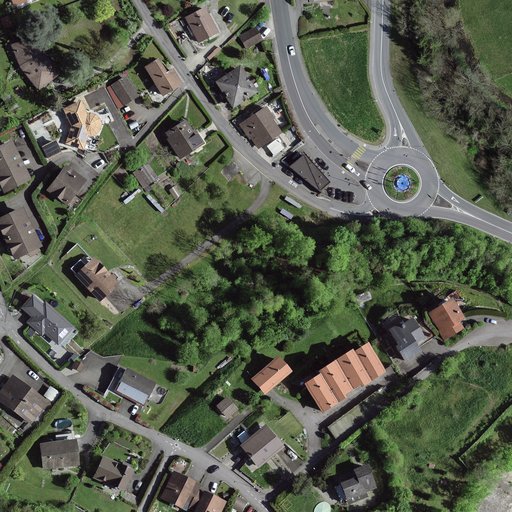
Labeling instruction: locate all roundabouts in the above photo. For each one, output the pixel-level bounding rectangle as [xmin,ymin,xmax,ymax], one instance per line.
[356,138,454,220]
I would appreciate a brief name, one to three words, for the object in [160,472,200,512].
house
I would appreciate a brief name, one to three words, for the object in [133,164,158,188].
shed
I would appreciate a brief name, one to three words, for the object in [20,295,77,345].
house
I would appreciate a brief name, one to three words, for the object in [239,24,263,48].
barn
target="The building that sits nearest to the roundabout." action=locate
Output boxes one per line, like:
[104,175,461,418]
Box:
[289,153,330,191]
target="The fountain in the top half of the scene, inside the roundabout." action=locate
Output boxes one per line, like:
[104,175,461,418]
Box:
[394,174,411,192]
